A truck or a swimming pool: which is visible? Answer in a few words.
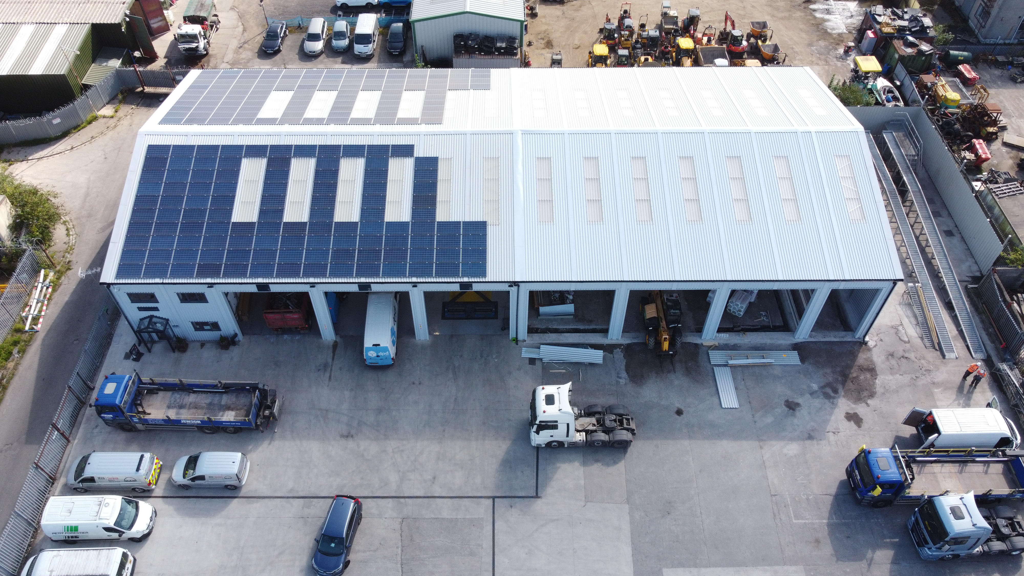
truck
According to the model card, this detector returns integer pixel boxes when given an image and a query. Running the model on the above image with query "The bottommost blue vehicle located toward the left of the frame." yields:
[309,494,363,576]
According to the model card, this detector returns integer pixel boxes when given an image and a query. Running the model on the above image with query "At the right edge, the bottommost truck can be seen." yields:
[907,490,1024,559]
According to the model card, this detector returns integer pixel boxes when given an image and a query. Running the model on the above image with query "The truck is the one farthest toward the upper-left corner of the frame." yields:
[171,0,224,54]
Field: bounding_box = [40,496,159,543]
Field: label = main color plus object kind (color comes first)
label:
white van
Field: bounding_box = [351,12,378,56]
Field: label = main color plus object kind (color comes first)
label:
white vehicle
